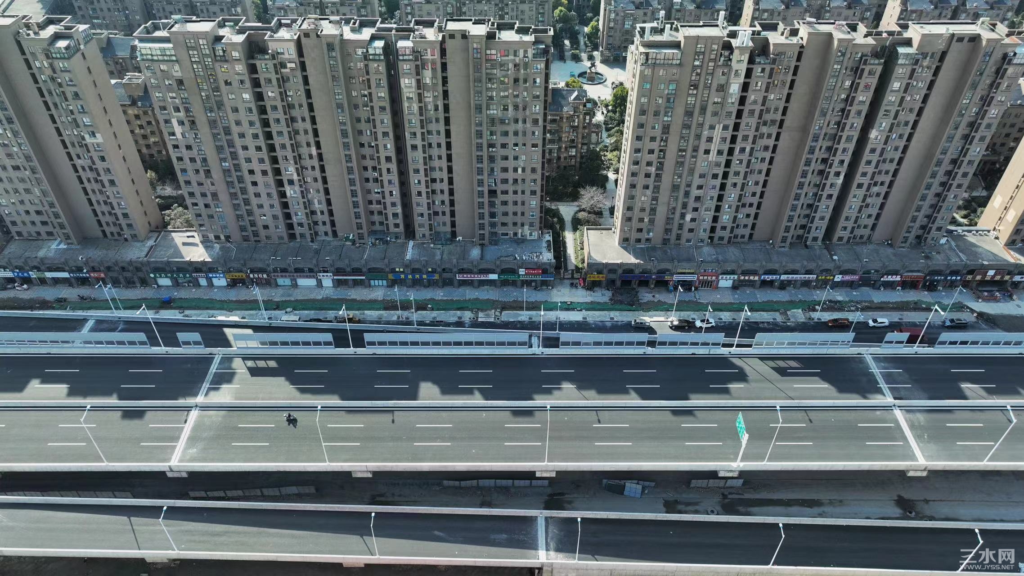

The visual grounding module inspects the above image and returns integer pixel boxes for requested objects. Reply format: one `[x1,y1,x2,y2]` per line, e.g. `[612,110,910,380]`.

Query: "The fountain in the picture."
[577,72,607,86]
